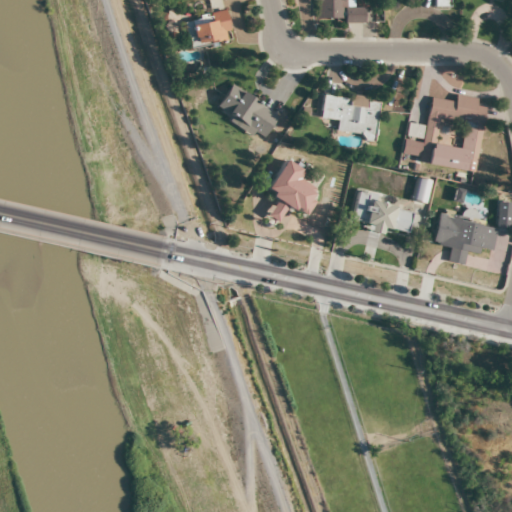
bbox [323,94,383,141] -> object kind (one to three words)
house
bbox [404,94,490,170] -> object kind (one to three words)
house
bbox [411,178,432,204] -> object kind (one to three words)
shed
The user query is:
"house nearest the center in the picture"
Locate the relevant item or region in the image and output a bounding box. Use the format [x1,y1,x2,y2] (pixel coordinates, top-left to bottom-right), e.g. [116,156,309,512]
[268,160,320,221]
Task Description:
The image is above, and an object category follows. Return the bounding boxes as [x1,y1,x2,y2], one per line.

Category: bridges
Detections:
[0,199,171,273]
